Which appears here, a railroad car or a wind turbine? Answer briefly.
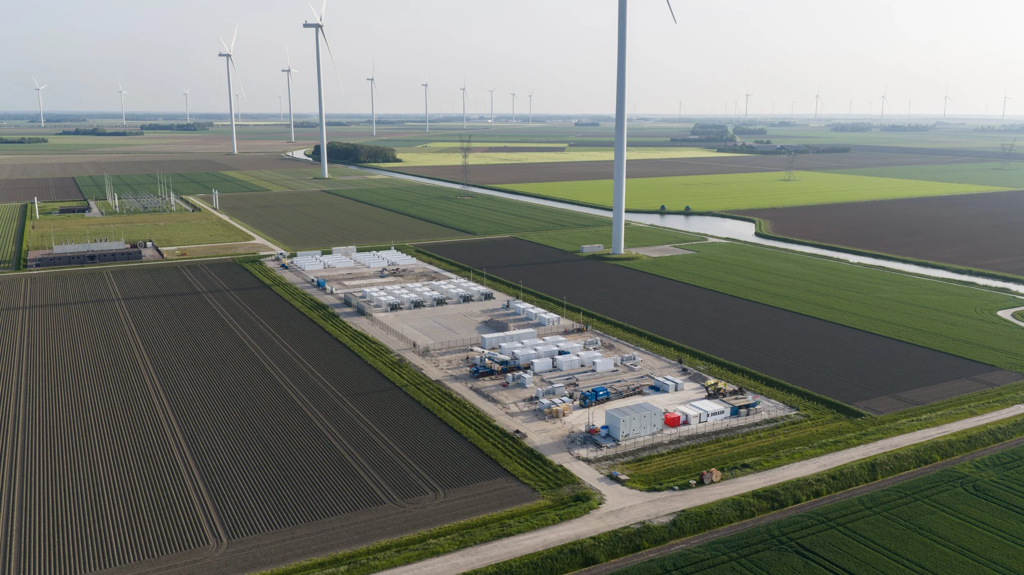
wind turbine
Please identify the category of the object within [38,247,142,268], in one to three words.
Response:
building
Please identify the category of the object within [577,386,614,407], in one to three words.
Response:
truck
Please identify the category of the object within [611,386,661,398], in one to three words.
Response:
vehicle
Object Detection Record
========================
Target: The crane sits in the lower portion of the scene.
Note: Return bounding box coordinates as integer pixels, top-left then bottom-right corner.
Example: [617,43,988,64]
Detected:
[469,346,522,377]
